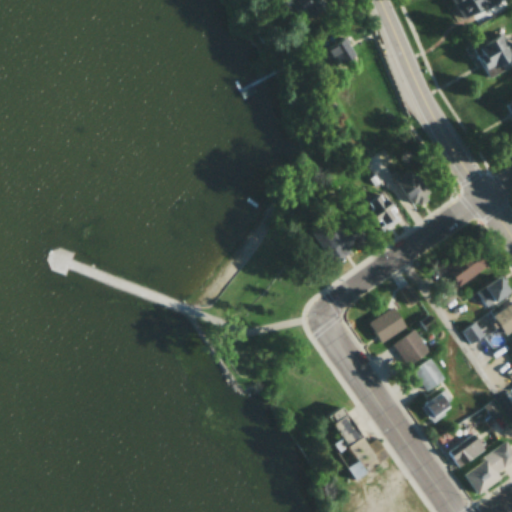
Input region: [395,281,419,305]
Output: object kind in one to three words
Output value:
building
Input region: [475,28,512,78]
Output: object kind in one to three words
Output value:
house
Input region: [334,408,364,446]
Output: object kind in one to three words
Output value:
house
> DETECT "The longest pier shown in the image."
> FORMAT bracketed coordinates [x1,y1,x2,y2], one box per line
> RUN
[48,248,203,319]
